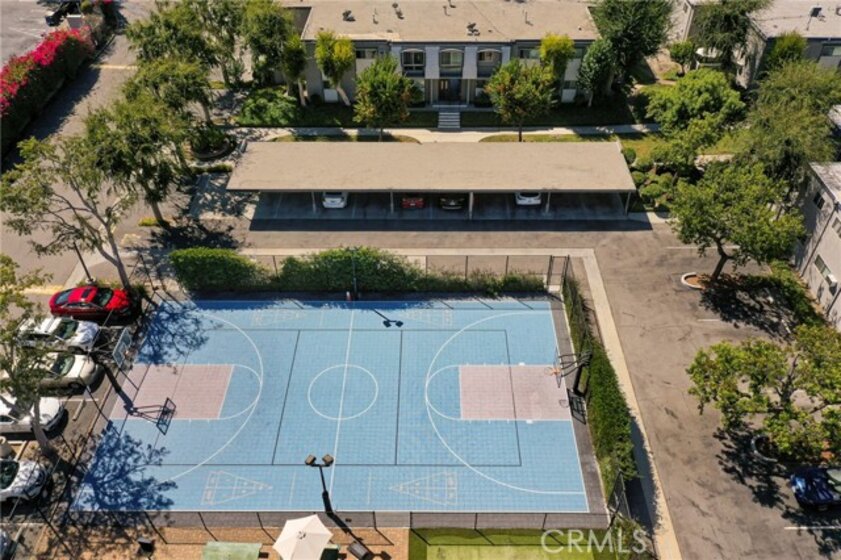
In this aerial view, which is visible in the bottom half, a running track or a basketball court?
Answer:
basketball court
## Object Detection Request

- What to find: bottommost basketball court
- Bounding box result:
[70,301,590,512]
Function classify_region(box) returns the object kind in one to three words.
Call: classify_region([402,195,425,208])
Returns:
vehicle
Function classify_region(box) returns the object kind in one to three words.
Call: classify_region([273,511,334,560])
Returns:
umbrella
